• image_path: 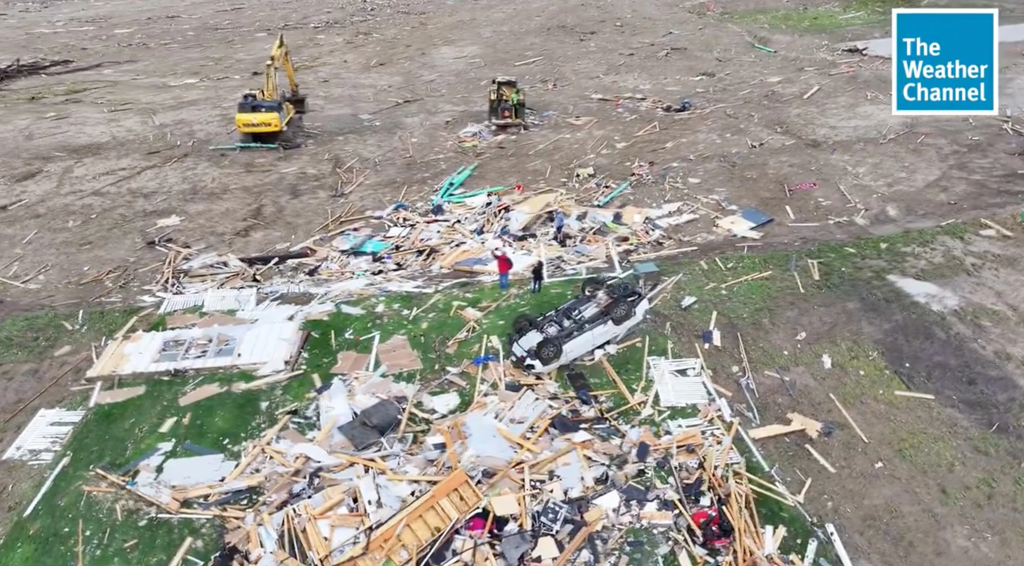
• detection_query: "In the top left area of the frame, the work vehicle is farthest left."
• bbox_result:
[235,30,312,141]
